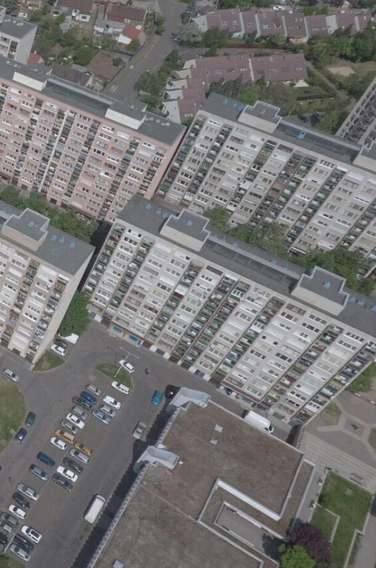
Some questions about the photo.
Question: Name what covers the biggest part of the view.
buildings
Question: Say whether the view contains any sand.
No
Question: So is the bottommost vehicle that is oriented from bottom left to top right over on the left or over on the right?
left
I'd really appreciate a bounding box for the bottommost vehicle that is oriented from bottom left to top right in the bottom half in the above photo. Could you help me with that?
[83,498,105,522]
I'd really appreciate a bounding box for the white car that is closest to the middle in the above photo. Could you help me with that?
[115,359,137,374]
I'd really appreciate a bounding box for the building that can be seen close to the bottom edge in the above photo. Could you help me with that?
[93,387,316,568]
